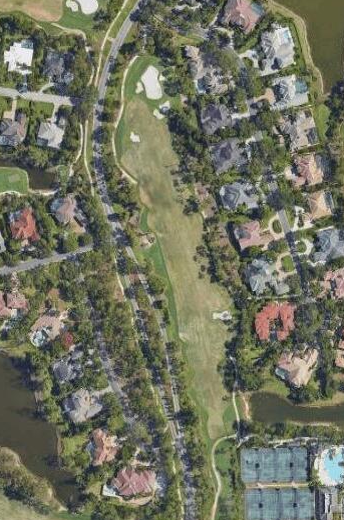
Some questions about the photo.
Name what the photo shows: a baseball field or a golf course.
golf course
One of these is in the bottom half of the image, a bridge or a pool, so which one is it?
pool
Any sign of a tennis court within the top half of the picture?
No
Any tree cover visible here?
Yes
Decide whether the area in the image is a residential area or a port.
residential area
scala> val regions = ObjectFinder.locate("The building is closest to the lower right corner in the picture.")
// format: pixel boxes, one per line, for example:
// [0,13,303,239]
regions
[313,489,330,520]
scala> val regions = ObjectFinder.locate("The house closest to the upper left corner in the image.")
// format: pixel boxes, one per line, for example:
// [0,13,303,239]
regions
[0,38,37,75]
